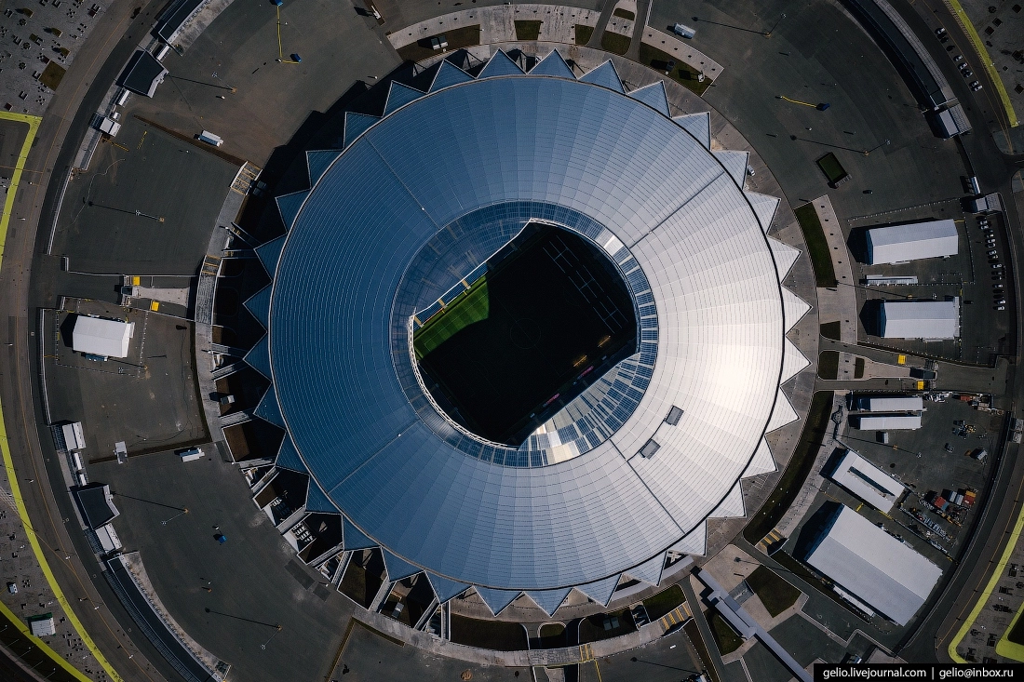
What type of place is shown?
sports ground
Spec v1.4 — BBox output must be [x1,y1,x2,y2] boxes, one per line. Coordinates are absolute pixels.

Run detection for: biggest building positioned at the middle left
[71,315,136,363]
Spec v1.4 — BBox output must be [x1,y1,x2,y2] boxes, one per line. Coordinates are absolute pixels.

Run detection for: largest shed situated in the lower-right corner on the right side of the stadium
[803,503,942,626]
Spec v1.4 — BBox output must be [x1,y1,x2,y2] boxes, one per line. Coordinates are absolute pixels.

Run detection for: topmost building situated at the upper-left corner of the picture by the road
[149,0,215,46]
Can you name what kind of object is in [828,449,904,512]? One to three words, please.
shed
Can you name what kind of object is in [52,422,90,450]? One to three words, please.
building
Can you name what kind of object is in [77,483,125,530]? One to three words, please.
building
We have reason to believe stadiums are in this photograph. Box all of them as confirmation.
[241,48,810,618]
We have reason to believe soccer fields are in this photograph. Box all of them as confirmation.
[413,223,639,442]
